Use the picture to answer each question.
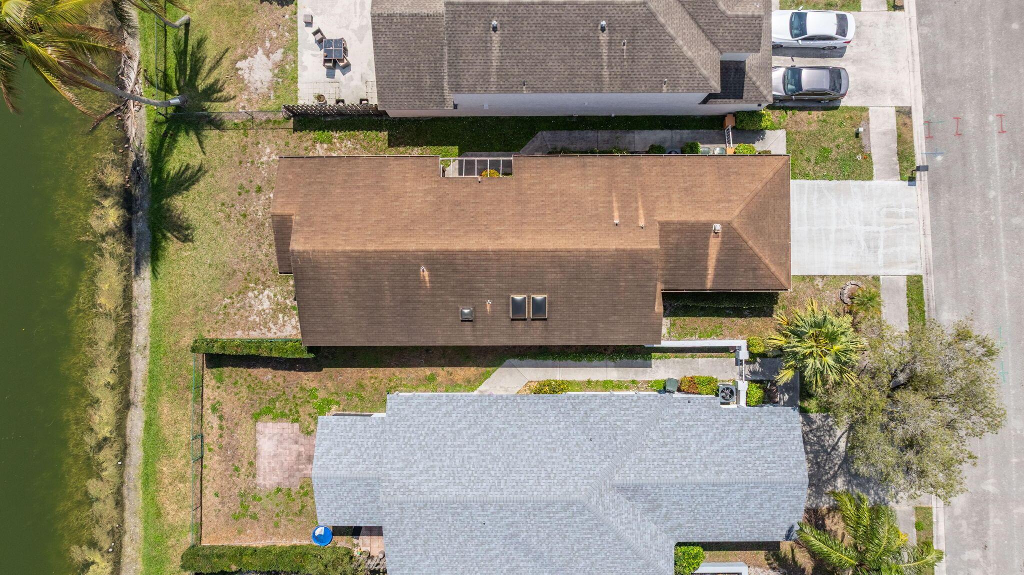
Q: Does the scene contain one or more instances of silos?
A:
No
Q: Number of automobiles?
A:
2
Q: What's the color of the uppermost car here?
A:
white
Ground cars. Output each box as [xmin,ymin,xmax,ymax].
[771,61,848,102]
[771,6,854,49]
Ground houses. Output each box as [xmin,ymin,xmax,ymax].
[371,0,774,116]
[311,391,810,575]
[270,153,793,346]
